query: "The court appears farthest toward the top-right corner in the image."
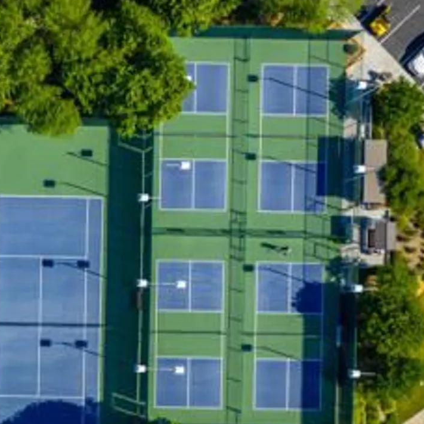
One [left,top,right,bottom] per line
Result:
[260,64,331,213]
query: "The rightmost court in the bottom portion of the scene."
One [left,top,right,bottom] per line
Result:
[254,262,324,411]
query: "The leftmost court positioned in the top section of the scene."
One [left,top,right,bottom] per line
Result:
[160,63,231,211]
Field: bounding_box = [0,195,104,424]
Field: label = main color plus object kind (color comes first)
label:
blue tennis court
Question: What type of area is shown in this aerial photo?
sports ground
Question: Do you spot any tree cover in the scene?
Yes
